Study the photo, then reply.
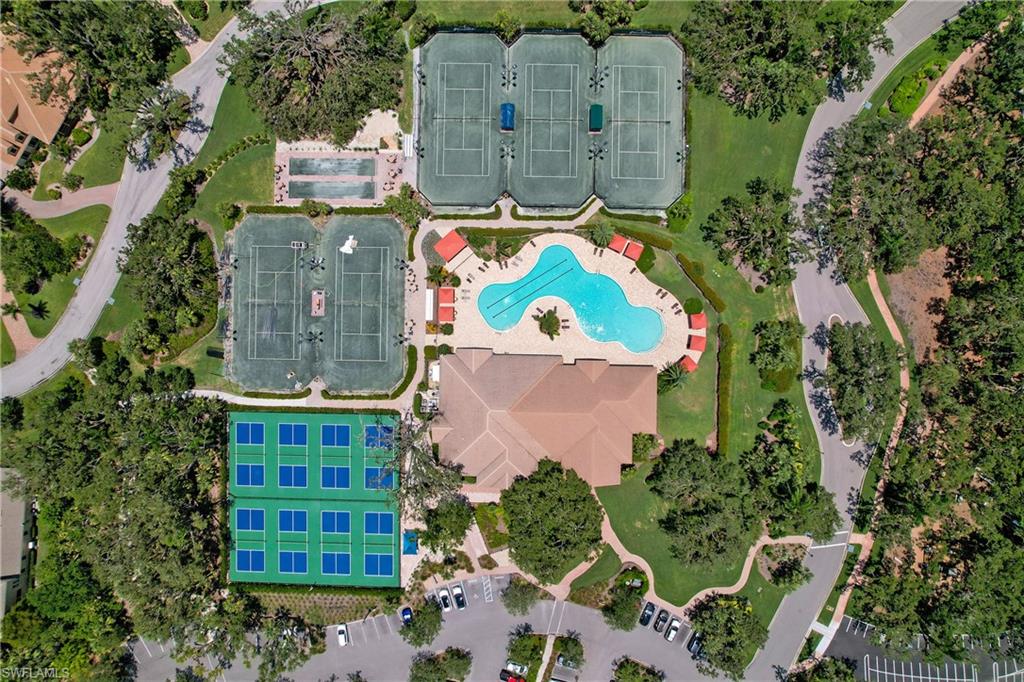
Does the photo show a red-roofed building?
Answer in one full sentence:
Yes, a red-roofed building can be made out from above.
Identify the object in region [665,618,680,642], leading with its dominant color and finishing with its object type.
white car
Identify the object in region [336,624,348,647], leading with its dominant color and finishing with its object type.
white vehicle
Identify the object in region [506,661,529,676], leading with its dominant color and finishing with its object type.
white car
